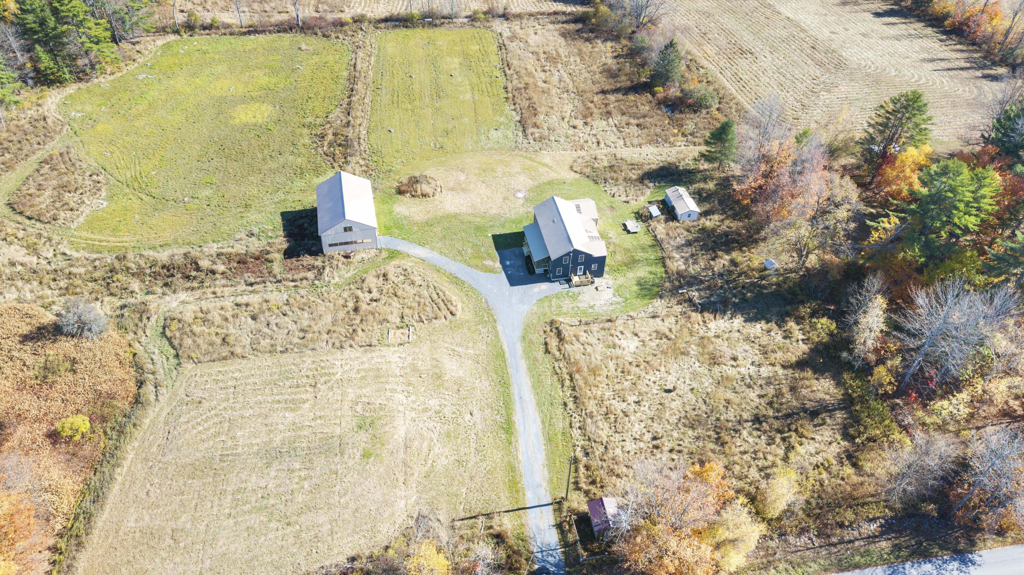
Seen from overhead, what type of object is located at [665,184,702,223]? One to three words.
shed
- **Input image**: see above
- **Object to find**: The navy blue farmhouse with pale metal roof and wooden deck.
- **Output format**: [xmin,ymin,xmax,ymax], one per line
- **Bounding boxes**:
[521,194,608,280]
